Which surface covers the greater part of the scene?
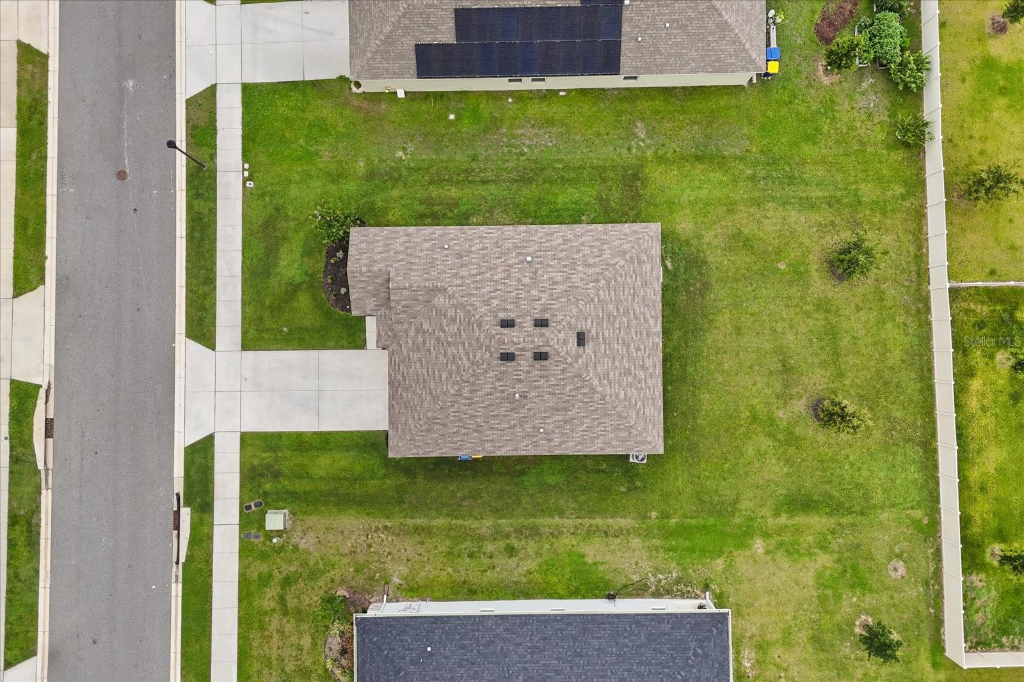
grass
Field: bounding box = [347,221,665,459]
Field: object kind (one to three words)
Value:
house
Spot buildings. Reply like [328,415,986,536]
[348,0,768,90]
[347,221,665,459]
[354,592,732,682]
